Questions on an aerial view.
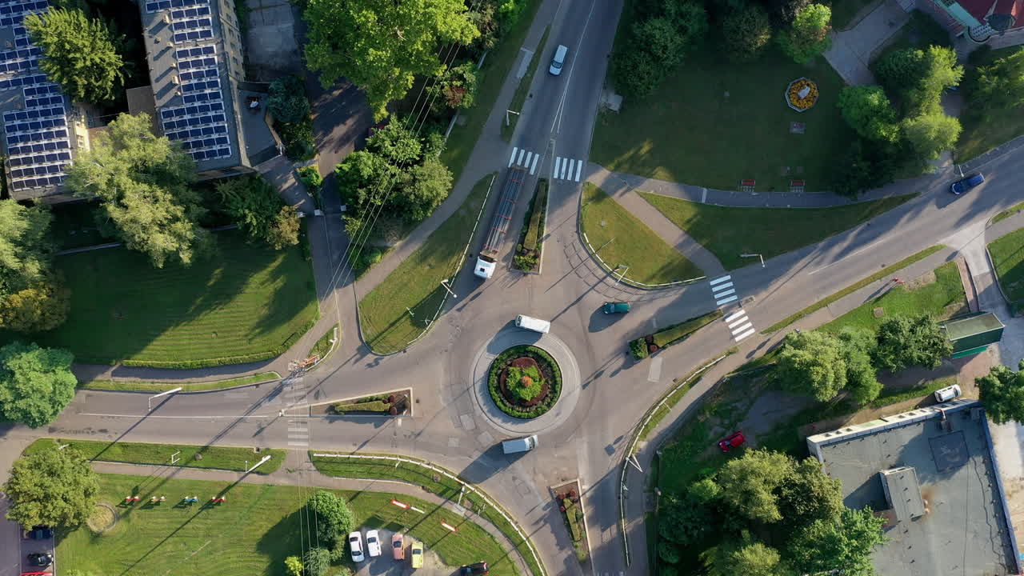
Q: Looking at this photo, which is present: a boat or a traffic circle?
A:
traffic circle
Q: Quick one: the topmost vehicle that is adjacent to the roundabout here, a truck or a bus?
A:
truck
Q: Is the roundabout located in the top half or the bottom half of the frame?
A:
bottom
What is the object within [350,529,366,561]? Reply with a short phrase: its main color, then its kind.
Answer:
white car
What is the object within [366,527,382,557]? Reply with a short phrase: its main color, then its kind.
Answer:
white car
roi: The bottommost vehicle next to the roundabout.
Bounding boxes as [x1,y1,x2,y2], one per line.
[503,434,540,455]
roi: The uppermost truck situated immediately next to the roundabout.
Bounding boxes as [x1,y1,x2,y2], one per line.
[470,163,528,276]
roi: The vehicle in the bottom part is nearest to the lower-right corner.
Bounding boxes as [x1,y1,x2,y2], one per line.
[931,383,960,402]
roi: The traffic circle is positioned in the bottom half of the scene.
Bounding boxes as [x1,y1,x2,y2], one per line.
[470,326,581,436]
